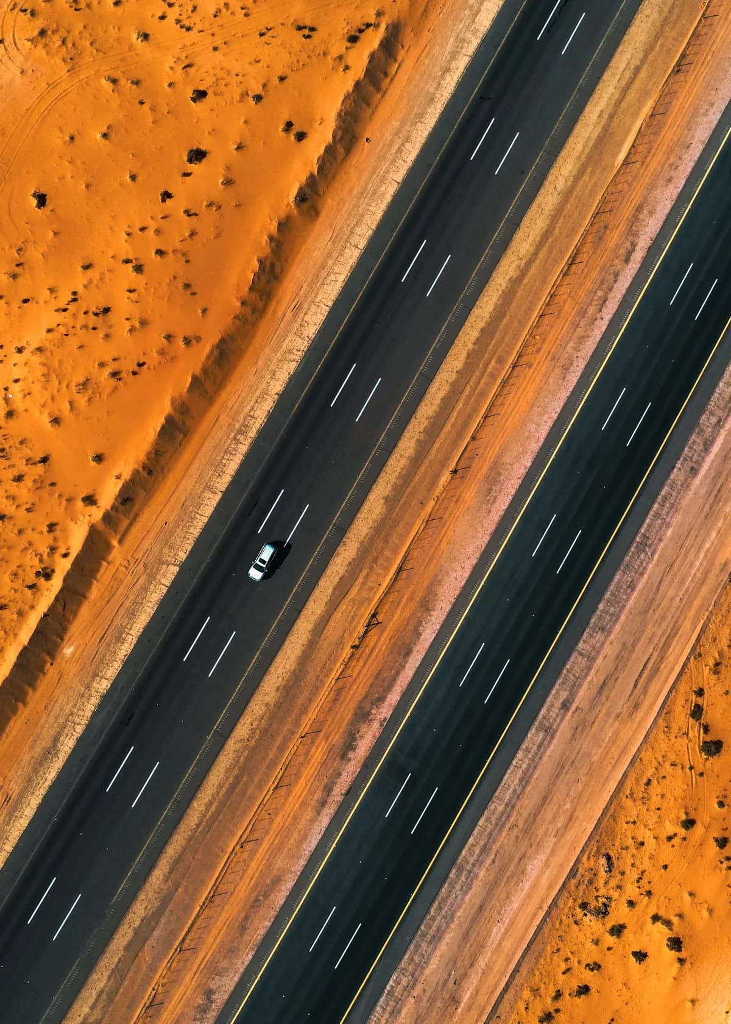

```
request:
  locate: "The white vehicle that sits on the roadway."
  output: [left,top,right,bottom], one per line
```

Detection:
[246,541,276,581]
